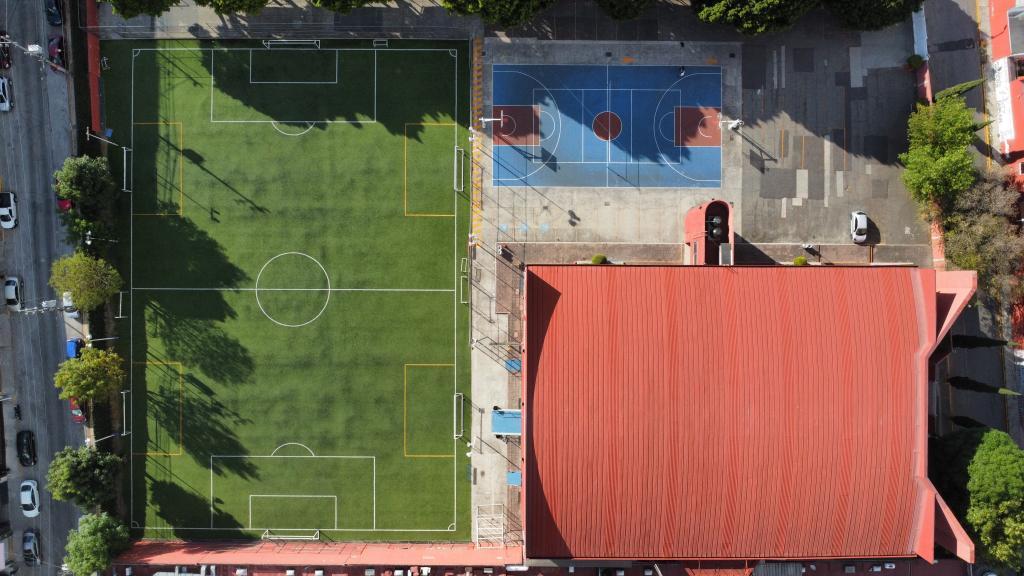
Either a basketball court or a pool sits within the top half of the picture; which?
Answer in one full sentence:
Looking within the top half of the picture, you will find a basketball court.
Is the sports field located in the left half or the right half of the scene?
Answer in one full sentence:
The sports field appears in the left half of the scene.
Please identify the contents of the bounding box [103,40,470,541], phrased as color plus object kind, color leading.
green sports field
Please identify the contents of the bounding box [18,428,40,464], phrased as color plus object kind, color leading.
black car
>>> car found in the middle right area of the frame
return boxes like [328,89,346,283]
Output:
[850,211,870,243]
